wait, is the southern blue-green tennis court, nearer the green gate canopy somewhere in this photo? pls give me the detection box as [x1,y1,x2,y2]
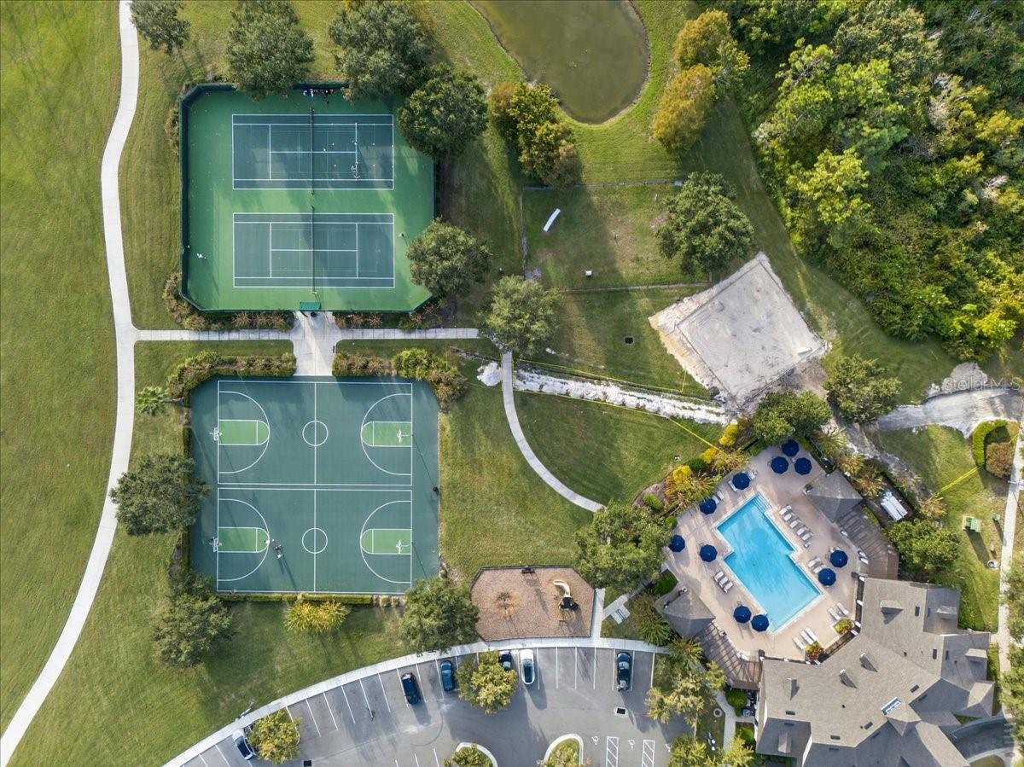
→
[233,213,395,288]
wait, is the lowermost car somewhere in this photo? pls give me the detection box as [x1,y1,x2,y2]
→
[232,727,253,761]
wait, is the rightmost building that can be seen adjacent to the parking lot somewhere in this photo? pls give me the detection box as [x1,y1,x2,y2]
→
[753,570,994,767]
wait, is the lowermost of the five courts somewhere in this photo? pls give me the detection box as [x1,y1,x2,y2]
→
[217,488,412,593]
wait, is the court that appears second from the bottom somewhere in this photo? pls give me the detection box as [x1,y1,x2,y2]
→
[217,380,413,486]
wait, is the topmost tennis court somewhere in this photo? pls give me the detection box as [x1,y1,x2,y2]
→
[232,114,394,189]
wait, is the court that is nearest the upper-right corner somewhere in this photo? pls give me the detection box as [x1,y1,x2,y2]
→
[650,251,828,408]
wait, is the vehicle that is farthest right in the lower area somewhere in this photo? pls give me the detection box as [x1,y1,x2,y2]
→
[617,652,633,690]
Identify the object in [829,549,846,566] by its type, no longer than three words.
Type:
umbrella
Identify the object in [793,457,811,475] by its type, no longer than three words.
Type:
umbrella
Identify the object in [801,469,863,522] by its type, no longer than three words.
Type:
building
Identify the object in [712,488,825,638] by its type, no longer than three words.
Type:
swimming pool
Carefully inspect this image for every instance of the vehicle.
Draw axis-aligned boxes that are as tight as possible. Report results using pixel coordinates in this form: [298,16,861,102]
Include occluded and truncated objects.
[401,672,420,705]
[499,648,514,680]
[232,727,253,761]
[520,649,536,684]
[617,652,633,690]
[439,659,455,692]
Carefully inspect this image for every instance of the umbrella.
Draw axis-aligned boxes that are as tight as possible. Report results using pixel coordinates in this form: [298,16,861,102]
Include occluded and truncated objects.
[668,535,685,552]
[748,612,767,630]
[829,549,846,566]
[816,567,834,585]
[732,603,750,621]
[699,543,717,561]
[697,496,715,514]
[770,456,788,474]
[793,457,811,475]
[731,471,749,489]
